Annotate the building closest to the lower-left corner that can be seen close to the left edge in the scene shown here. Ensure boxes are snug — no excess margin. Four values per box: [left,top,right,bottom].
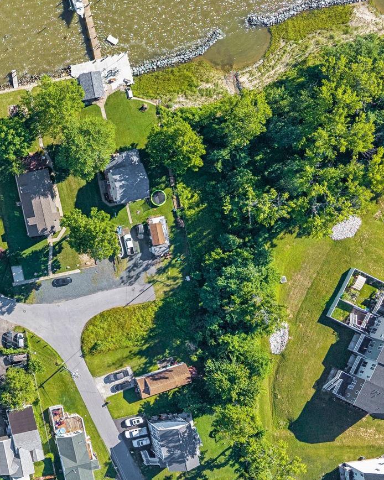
[0,438,34,480]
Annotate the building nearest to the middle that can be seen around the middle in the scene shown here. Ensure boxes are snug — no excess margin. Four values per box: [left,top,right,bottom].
[148,216,169,255]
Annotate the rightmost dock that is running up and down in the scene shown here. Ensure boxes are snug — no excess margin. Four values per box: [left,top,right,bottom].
[83,0,104,61]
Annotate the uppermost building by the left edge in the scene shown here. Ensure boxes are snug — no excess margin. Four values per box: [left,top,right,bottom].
[15,169,61,237]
